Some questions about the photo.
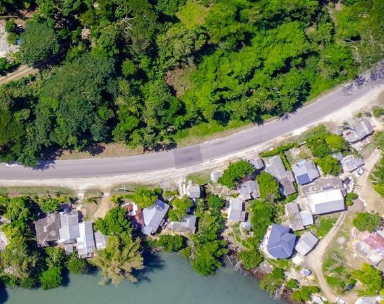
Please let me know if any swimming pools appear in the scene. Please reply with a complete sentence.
No, there's no swimming pool here.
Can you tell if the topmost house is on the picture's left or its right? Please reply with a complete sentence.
You can find the topmost house on the right side of the picture.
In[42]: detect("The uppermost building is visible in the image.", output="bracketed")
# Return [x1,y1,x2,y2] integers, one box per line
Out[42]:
[341,119,374,143]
